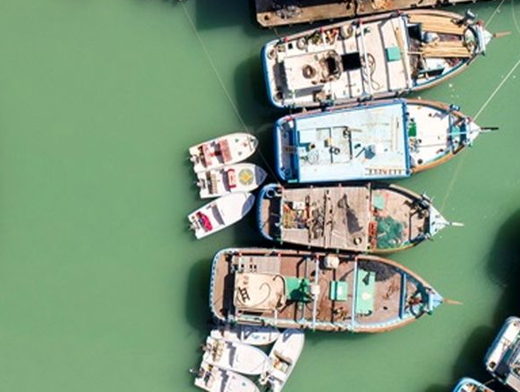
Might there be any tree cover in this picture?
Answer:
No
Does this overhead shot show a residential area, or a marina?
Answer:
marina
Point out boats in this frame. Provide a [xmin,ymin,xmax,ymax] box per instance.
[187,190,255,239]
[445,374,494,392]
[210,247,465,334]
[194,164,268,198]
[256,178,469,253]
[274,96,505,189]
[485,320,520,389]
[200,336,268,370]
[206,321,280,347]
[259,9,518,110]
[187,135,258,172]
[261,329,300,392]
[194,362,261,392]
